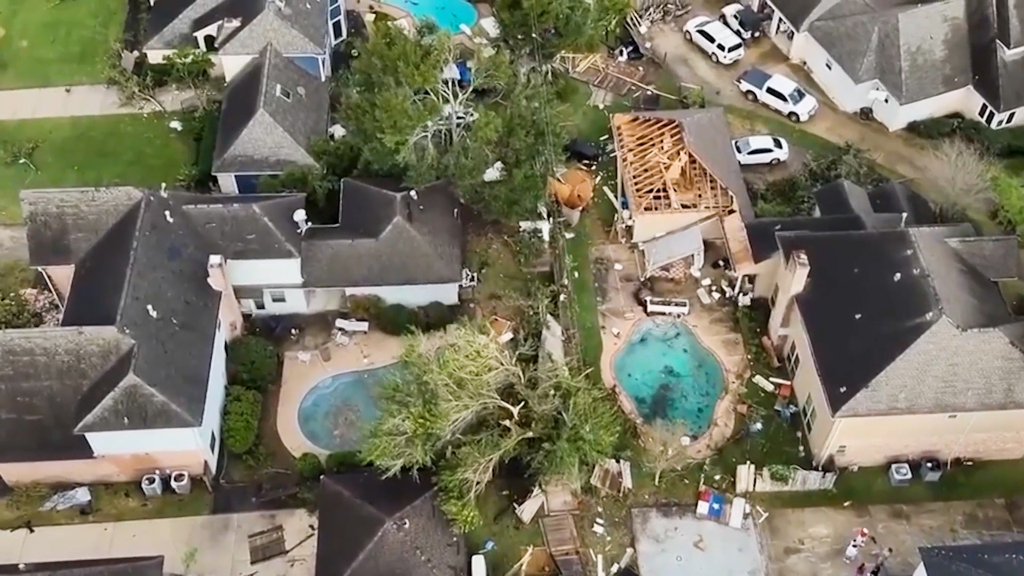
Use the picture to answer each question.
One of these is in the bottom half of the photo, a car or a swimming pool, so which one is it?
swimming pool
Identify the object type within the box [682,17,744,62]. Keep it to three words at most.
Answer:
car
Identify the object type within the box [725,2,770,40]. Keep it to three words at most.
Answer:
car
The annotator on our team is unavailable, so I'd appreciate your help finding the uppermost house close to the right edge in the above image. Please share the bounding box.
[742,0,1024,133]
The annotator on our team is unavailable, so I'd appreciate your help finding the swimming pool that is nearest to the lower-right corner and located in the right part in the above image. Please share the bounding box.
[609,314,732,445]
